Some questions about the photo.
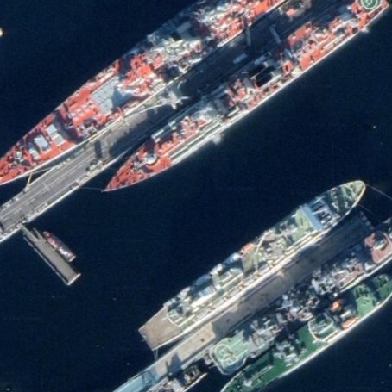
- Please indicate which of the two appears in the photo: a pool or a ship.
ship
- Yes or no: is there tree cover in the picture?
No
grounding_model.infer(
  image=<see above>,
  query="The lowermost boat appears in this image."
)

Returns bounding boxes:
[166,368,208,392]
